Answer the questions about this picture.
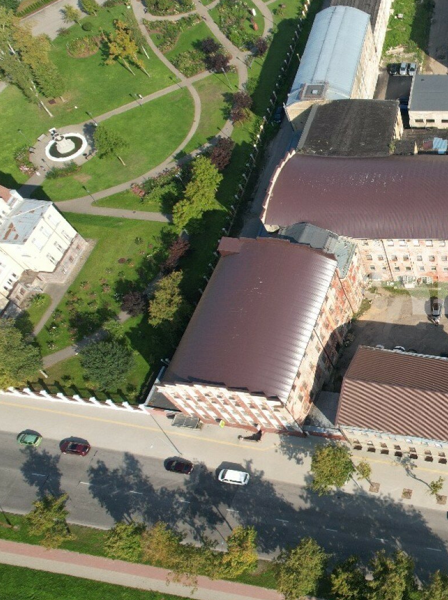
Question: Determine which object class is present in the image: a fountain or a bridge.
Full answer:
The one in the frame is a fountain.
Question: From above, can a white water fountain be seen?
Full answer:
Yes, there's a white water fountain here.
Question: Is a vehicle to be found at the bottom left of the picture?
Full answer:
Yes, a vehicle can be seen at the bottom left of the picture.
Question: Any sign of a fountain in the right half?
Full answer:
No, looking in the right half, there is no fountain.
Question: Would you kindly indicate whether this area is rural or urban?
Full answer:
It looks urban.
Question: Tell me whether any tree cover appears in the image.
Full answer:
Yes, there's tree cover in this view.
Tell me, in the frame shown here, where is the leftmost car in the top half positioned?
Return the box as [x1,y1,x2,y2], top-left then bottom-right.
[272,105,285,123]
